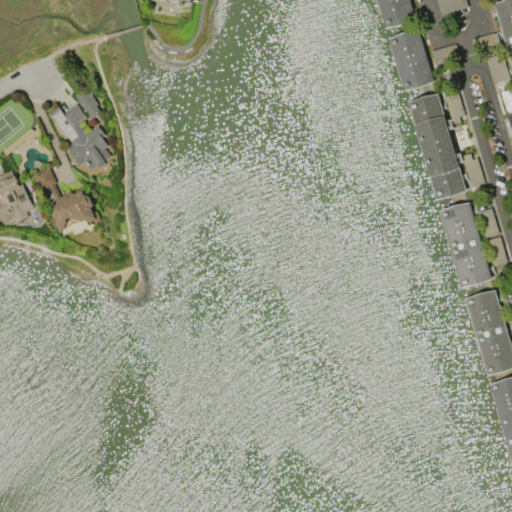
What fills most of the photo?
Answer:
water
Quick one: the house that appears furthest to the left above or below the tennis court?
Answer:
below it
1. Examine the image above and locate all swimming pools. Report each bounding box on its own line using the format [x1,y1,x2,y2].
[26,148,48,169]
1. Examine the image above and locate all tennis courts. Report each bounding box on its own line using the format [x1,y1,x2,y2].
[0,96,34,153]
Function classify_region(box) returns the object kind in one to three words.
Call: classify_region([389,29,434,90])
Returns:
building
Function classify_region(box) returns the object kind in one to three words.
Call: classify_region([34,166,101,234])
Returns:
house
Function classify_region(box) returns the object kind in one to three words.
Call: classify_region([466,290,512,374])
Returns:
building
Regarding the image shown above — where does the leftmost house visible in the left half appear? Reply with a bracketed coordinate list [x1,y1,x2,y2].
[0,170,34,225]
